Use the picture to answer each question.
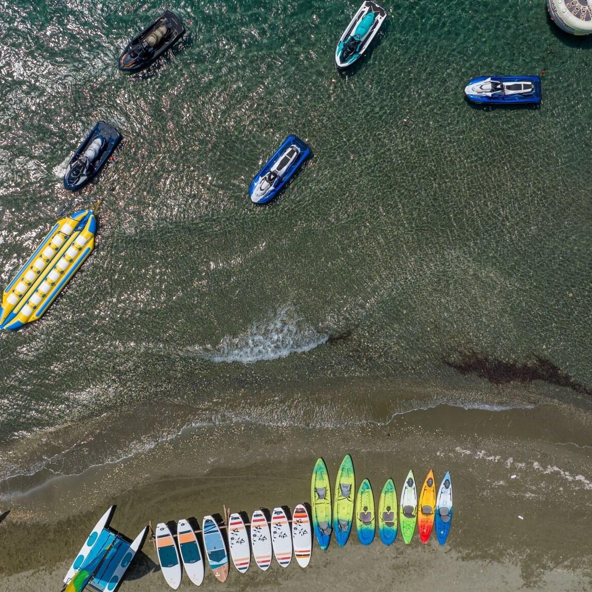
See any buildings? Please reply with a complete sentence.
No, I find no building anywhere in the image.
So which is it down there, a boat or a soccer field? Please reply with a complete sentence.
The image shows a boat.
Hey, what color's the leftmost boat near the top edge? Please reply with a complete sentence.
From above, the leftmost boat near the top edge appears black.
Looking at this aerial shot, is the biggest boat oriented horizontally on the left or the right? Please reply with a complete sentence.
You can find the biggest boat oriented horizontally on the right side of the picture.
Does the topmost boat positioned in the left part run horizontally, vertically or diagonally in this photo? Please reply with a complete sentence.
In this picture, the topmost boat positioned in the left part is oriented diagonally.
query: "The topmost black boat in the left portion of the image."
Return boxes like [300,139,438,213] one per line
[119,13,183,71]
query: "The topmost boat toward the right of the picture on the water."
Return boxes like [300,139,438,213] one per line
[335,3,385,70]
